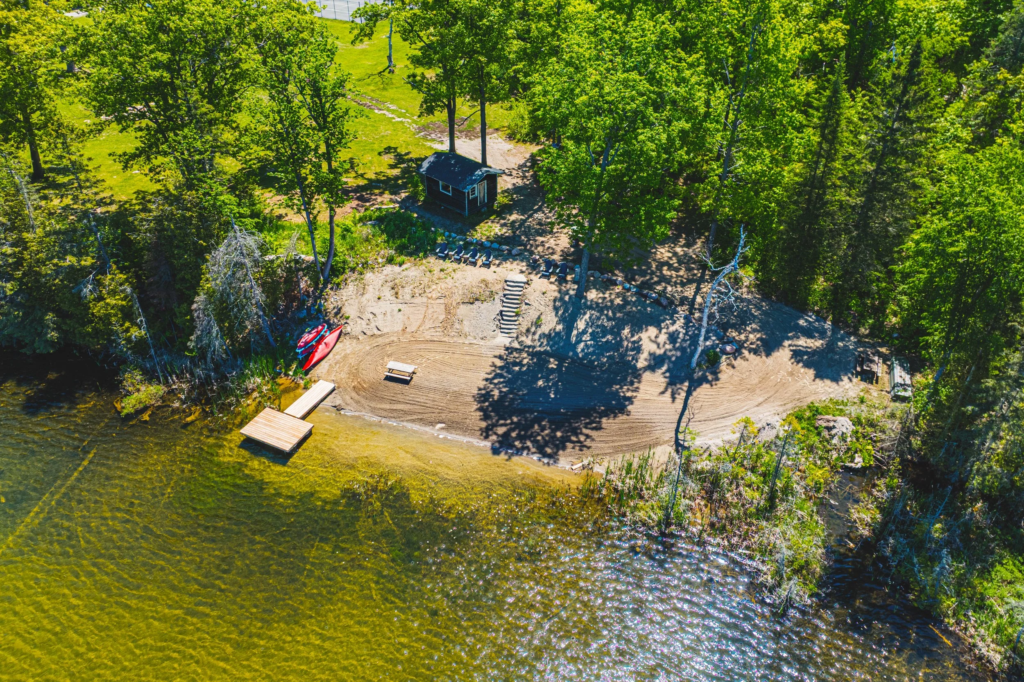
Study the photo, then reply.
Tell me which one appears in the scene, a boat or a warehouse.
boat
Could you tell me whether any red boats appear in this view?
Yes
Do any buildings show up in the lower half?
No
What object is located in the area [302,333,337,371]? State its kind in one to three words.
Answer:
boat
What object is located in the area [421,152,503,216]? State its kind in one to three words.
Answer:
building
